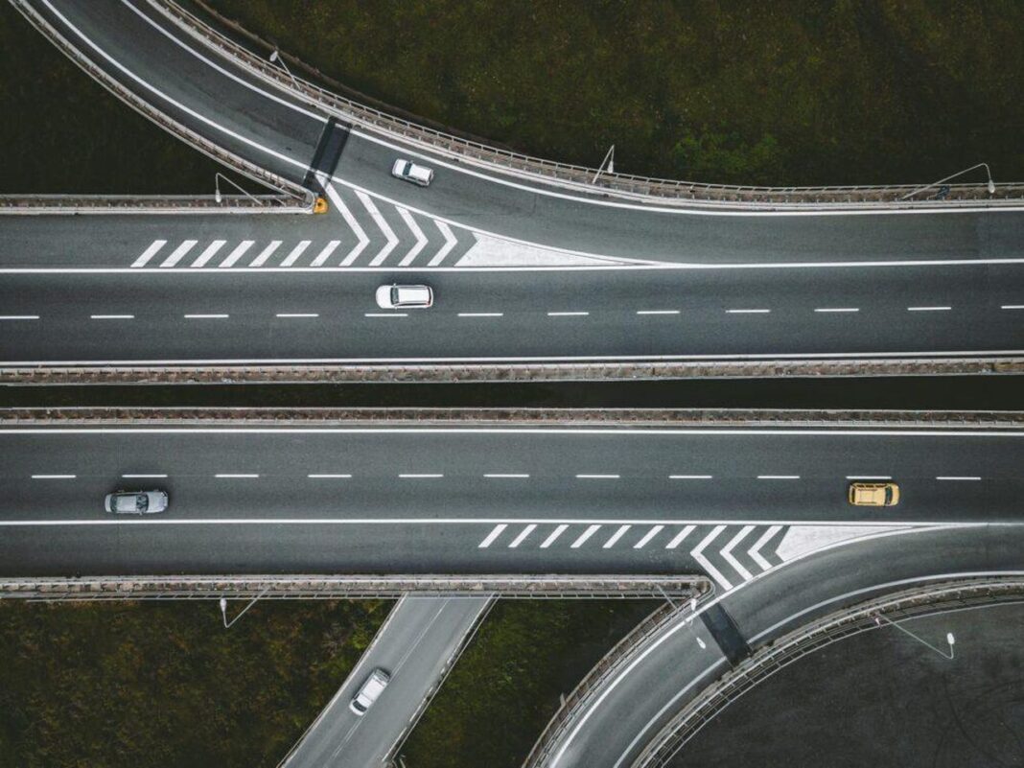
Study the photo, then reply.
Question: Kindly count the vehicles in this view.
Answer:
five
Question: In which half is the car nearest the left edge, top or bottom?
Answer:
bottom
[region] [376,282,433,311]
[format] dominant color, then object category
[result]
white car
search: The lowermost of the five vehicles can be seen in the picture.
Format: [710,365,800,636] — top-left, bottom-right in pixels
[350,668,388,714]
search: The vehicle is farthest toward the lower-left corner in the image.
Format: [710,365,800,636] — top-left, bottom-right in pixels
[106,489,169,518]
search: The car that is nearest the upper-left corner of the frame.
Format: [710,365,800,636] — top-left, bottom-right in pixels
[390,157,438,189]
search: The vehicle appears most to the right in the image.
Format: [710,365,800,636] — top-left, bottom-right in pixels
[846,481,897,509]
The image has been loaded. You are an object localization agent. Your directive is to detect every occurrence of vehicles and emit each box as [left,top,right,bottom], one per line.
[376,282,433,311]
[846,481,897,509]
[350,668,388,714]
[106,489,169,518]
[390,157,438,189]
